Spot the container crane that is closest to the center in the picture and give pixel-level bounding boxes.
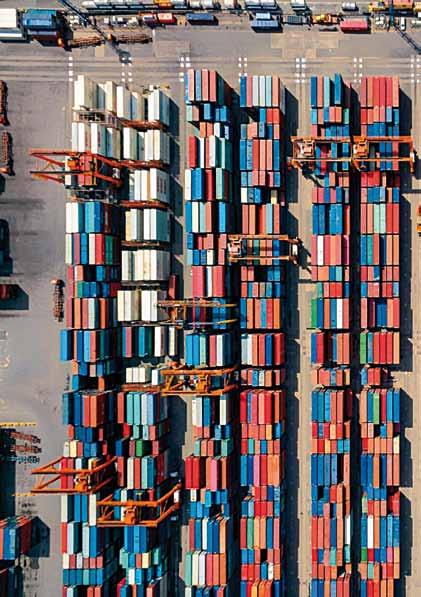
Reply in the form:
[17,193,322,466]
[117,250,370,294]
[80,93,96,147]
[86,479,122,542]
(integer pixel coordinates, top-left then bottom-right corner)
[160,297,240,328]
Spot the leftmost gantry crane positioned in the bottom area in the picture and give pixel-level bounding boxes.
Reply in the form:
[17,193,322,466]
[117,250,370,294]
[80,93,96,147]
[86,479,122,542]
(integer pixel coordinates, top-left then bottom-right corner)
[28,452,118,497]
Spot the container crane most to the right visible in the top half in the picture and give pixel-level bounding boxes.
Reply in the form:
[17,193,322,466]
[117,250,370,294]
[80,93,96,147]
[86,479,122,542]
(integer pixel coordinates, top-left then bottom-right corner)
[353,134,416,178]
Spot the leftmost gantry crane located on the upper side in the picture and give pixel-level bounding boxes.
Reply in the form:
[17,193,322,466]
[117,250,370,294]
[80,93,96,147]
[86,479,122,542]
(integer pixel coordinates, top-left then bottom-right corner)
[28,147,125,189]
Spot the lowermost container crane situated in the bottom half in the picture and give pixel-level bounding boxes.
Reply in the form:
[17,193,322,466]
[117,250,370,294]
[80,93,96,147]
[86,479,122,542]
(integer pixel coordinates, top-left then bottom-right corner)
[94,476,183,529]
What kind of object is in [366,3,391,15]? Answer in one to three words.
vehicle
